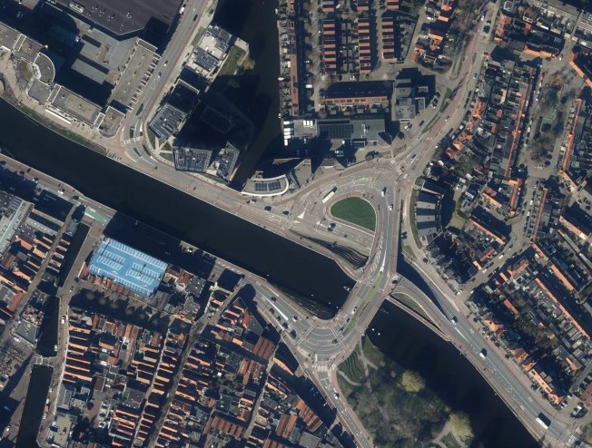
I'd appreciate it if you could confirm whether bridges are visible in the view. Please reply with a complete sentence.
Yes, the picture does show a bridge.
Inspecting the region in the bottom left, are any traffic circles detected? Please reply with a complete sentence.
No, I can find no traffic circle in the bottom left.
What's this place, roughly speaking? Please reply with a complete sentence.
This looks like a residential area.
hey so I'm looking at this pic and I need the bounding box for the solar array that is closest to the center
[250,177,287,195]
